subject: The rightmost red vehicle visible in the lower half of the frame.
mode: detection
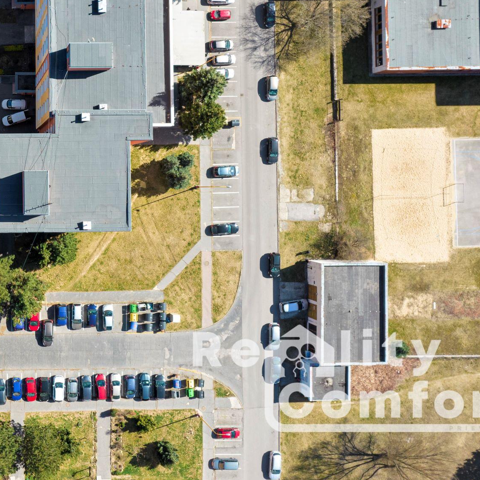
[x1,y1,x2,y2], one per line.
[214,426,240,440]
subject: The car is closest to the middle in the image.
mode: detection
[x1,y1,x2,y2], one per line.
[211,223,238,235]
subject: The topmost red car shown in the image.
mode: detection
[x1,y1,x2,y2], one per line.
[208,8,232,22]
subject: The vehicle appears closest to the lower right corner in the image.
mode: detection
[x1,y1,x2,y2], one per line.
[267,451,283,479]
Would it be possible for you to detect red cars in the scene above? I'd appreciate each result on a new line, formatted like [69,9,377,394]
[28,309,41,334]
[94,372,108,400]
[25,377,36,401]
[208,8,232,22]
[214,426,240,440]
